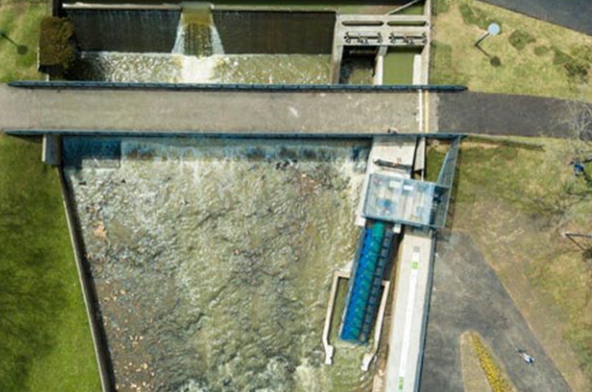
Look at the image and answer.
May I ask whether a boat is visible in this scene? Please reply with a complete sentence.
No, no boat is visible in the scene.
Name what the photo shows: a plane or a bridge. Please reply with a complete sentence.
It is a bridge that can be seen here.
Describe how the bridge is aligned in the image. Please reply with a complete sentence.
From this overhead view, the bridge appears to run from left to right.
